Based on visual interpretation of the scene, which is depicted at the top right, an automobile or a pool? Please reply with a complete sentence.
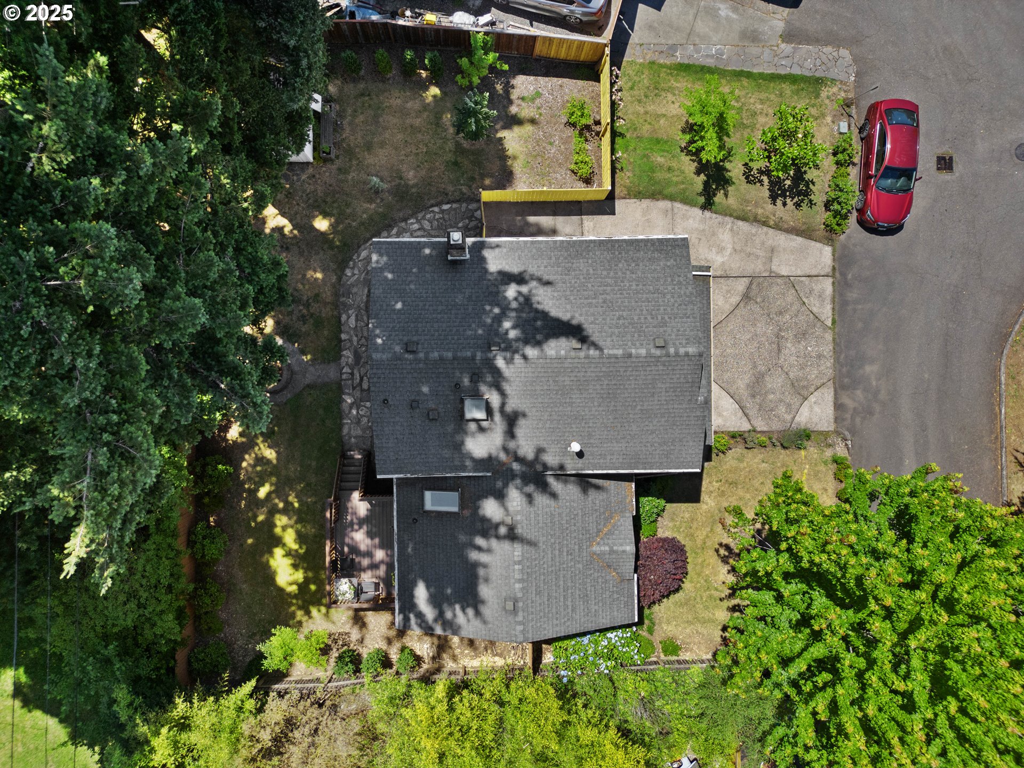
The feature located at the top right is an automobile.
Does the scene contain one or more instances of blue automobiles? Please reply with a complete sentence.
No, I find no blue automobile anywhere in the image.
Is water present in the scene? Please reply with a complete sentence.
No, no water is visible.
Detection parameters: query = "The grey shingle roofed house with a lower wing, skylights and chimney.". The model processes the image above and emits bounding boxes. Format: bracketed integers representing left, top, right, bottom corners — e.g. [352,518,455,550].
[368,226,715,643]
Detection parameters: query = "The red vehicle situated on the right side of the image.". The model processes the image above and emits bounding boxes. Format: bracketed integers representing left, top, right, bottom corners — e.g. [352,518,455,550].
[852,95,922,229]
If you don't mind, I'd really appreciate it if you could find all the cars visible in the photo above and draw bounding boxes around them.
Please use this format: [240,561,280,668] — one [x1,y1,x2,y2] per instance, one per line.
[852,95,922,229]
[490,0,606,27]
